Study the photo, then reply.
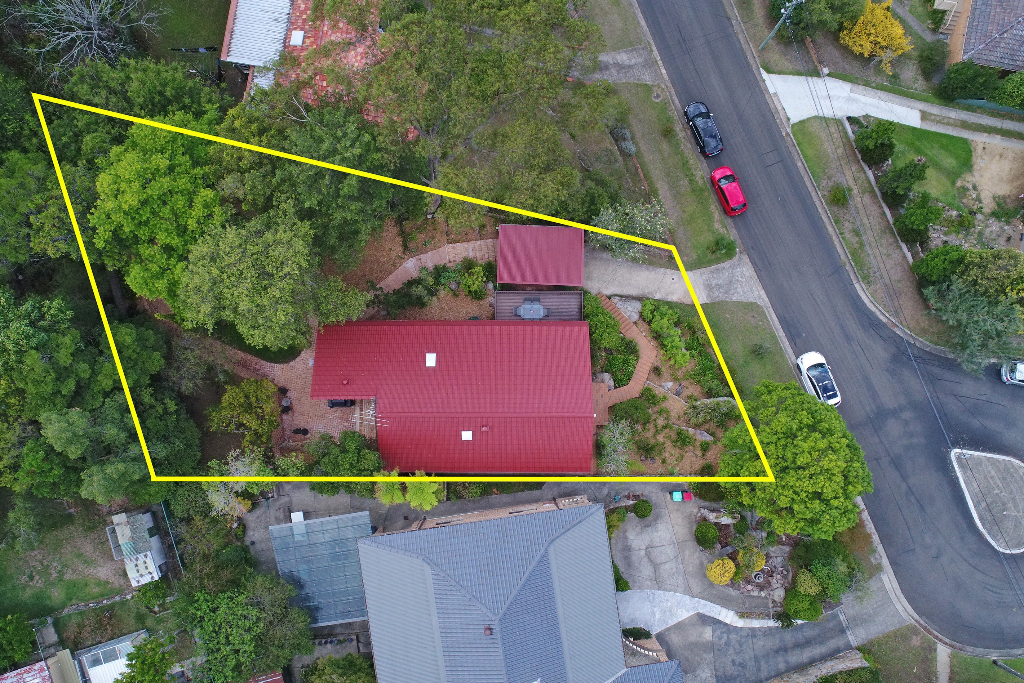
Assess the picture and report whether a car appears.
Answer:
Yes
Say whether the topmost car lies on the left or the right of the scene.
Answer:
right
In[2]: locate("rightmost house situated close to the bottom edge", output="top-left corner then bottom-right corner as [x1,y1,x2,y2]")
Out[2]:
[355,492,684,683]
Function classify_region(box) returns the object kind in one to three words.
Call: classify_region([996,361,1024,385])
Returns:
car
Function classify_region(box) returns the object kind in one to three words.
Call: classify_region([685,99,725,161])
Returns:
car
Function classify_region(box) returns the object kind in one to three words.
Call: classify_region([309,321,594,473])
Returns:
house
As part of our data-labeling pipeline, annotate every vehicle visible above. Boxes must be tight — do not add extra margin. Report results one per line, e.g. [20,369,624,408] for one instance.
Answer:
[685,99,725,161]
[711,165,747,219]
[996,361,1024,385]
[799,349,848,411]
